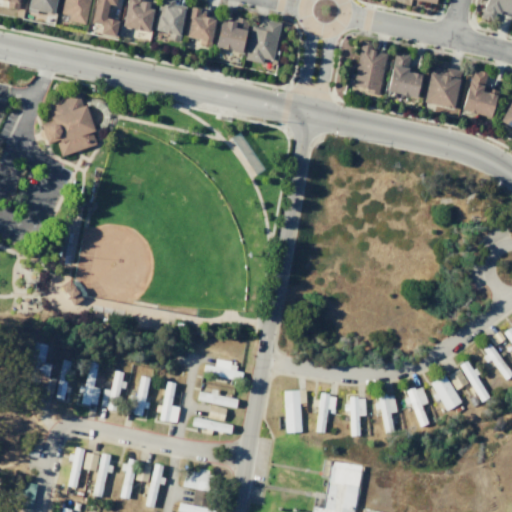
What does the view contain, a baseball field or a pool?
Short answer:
baseball field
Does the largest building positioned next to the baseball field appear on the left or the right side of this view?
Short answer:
left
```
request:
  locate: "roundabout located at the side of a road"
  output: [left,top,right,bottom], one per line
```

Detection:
[296,0,364,44]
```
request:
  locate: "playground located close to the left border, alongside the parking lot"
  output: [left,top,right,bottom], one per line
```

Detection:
[14,258,42,314]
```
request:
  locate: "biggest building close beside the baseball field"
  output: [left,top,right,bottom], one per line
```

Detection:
[44,96,100,159]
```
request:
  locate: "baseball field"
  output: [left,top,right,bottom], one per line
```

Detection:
[79,130,246,316]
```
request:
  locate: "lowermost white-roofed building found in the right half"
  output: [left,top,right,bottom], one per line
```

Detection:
[313,459,365,512]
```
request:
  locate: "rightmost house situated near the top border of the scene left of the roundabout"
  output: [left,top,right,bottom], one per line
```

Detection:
[248,18,284,62]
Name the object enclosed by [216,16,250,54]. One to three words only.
house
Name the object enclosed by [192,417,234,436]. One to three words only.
house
